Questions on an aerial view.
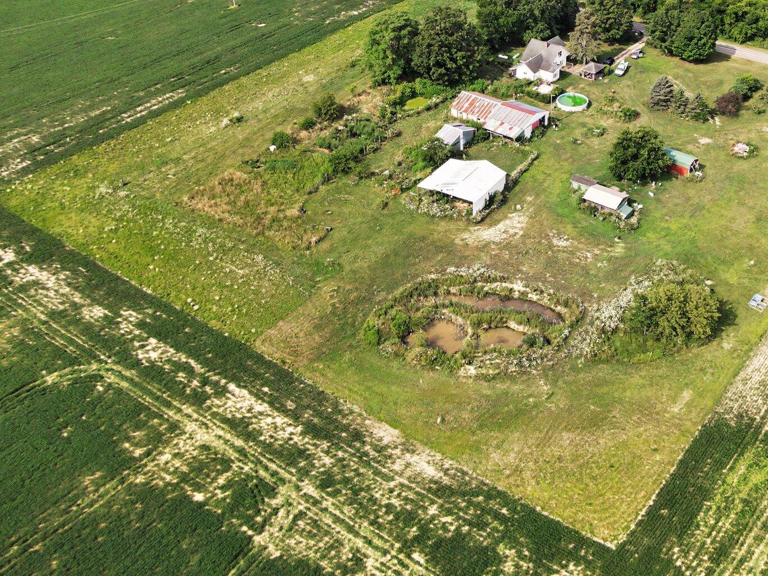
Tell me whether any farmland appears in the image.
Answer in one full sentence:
Yes, some farmland is visible.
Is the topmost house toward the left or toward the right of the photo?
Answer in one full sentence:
The topmost house sits on the right side.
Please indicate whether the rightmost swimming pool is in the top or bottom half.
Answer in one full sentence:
The rightmost swimming pool is in the top half of the image.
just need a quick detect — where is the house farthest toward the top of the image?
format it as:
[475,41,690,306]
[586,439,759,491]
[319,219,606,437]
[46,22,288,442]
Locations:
[510,35,571,82]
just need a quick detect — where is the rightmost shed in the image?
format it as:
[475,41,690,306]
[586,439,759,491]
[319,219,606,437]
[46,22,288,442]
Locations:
[664,149,700,176]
